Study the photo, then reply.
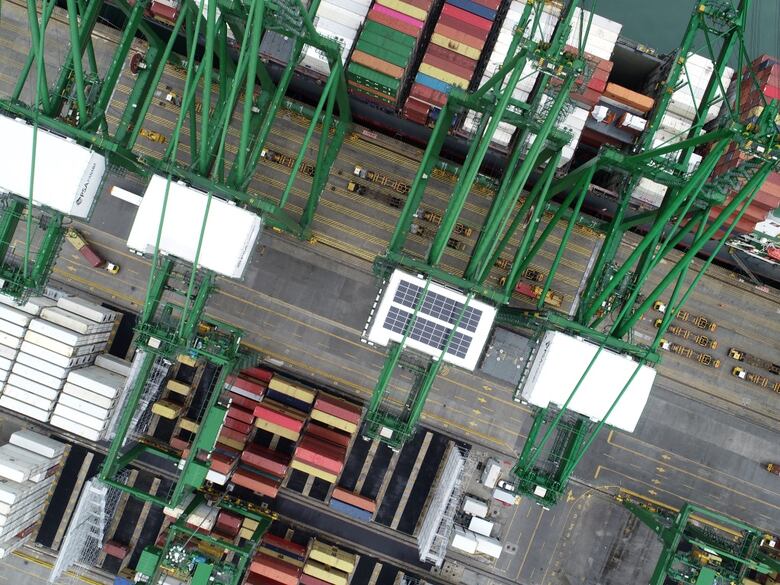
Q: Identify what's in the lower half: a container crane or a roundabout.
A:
container crane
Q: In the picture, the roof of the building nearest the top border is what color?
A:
white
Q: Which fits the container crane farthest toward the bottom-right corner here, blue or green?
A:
green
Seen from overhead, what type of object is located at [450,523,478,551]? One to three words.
building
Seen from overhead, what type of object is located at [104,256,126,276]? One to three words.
vehicle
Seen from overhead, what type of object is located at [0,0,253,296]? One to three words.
container crane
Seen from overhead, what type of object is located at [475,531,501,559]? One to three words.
building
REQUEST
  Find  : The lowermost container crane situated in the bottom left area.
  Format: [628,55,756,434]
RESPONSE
[137,484,283,585]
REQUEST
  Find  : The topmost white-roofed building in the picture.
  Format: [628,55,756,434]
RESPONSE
[479,452,503,489]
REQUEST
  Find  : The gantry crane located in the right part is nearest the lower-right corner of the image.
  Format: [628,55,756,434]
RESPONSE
[621,498,775,585]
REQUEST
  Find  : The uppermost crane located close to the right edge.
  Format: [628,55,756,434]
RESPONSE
[496,0,780,504]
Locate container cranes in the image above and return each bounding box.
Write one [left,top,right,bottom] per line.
[127,0,361,358]
[353,0,607,446]
[137,484,283,585]
[496,0,780,504]
[621,498,775,585]
[99,305,272,510]
[0,0,253,296]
